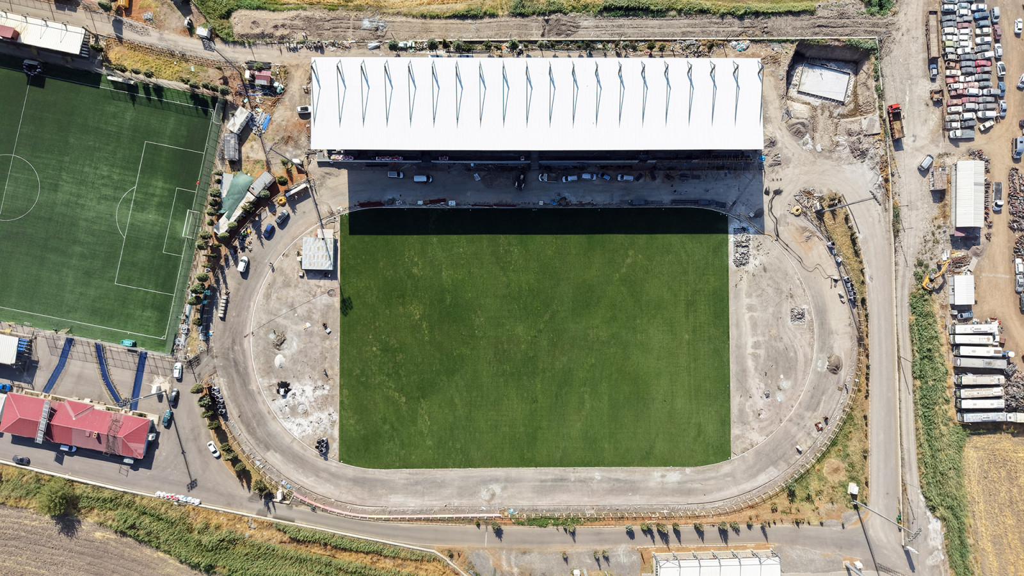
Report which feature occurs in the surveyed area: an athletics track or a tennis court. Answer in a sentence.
It is an athletics track that can be seen here.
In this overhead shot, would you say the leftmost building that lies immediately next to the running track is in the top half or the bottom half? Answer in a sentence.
It is in the bottom half that the leftmost building that lies immediately next to the running track appears.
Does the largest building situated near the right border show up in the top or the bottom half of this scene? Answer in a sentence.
The top half of the photo is where the largest building situated near the right border is.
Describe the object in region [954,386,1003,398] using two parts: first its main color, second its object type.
white vehicle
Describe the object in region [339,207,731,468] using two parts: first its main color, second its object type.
green sports field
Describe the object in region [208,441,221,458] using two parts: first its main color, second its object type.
white vehicle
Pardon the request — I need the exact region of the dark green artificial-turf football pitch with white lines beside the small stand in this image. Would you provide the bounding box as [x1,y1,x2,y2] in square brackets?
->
[0,54,222,354]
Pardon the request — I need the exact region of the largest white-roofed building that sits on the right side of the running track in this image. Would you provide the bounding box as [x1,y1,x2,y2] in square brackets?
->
[946,161,984,237]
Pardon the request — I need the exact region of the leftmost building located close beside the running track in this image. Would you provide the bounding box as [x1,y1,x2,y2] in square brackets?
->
[0,391,160,459]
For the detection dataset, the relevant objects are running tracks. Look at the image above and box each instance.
[214,162,858,507]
